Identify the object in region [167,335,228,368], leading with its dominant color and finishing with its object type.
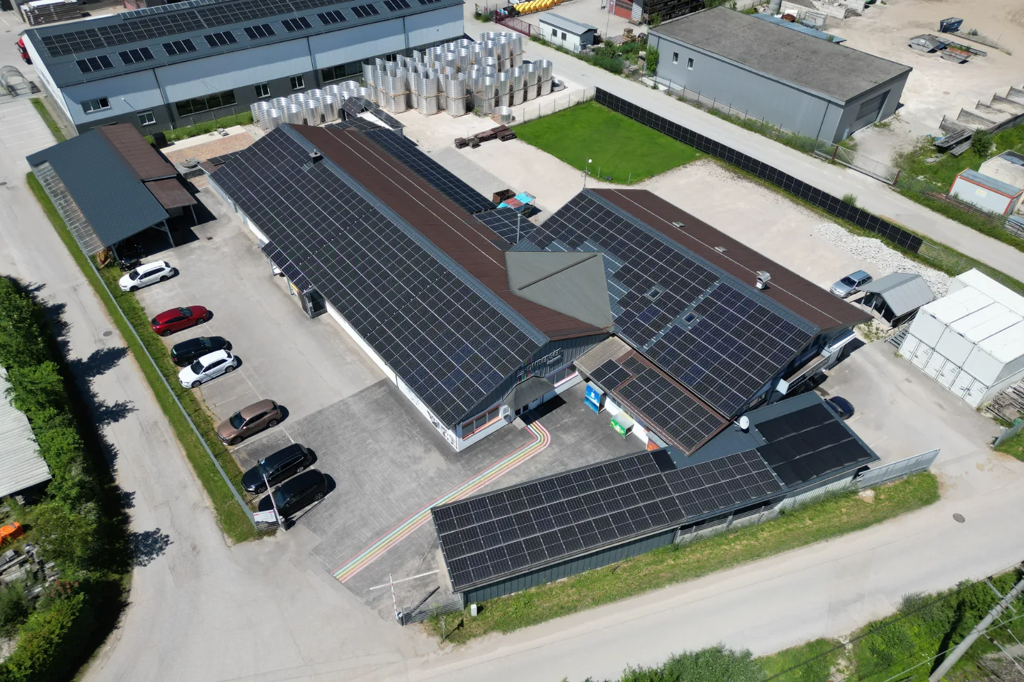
black car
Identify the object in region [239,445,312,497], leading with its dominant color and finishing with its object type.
black car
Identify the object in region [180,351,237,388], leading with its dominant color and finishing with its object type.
white car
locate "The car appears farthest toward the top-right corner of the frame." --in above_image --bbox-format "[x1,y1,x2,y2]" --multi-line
[832,266,874,297]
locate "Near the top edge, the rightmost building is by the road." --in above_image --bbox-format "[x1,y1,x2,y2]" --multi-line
[646,6,917,147]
